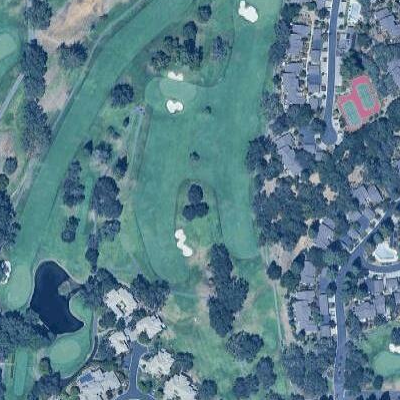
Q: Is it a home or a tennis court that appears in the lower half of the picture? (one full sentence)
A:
The one visible in the lower half of the picture is a home.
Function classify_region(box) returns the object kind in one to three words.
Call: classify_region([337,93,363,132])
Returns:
tennis court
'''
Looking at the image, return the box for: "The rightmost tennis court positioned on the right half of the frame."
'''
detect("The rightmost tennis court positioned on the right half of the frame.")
[351,74,380,122]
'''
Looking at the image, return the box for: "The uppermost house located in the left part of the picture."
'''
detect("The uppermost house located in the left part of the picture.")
[102,287,137,319]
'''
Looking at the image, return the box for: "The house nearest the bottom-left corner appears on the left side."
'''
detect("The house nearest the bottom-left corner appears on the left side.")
[77,366,120,400]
